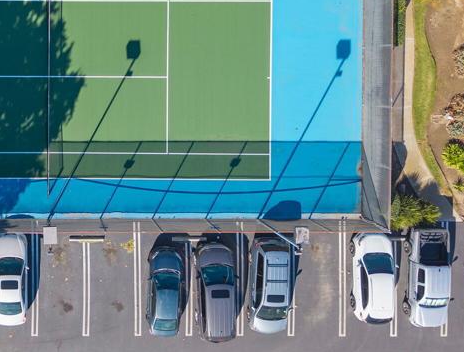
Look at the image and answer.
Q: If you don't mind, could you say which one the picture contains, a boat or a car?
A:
car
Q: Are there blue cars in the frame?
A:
Yes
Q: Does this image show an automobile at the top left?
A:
No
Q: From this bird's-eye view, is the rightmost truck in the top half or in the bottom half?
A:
bottom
